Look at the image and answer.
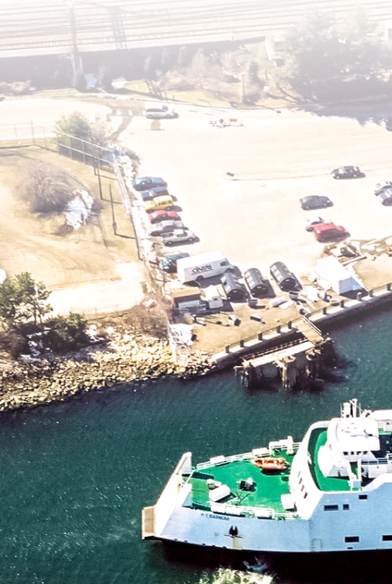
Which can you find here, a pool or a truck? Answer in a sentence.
Looking from above, you can make out a truck.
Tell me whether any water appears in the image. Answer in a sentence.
Yes, some water is visible.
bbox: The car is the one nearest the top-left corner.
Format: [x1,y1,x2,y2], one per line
[143,104,177,120]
